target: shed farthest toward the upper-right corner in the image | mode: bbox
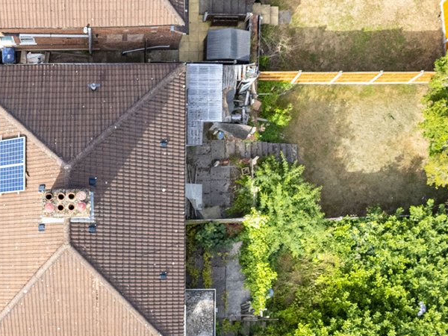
[203,27,251,70]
